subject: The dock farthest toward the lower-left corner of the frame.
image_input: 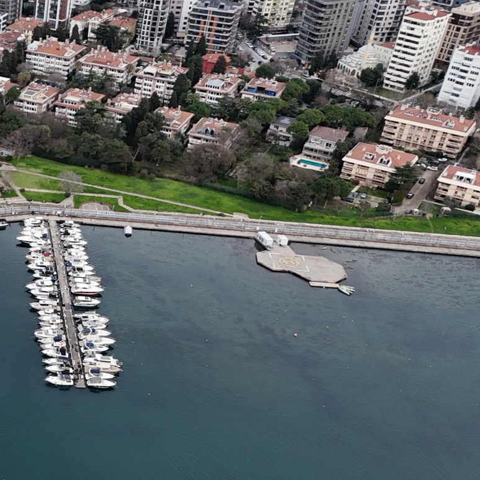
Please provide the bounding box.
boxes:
[63,304,86,390]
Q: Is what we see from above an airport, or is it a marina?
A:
marina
